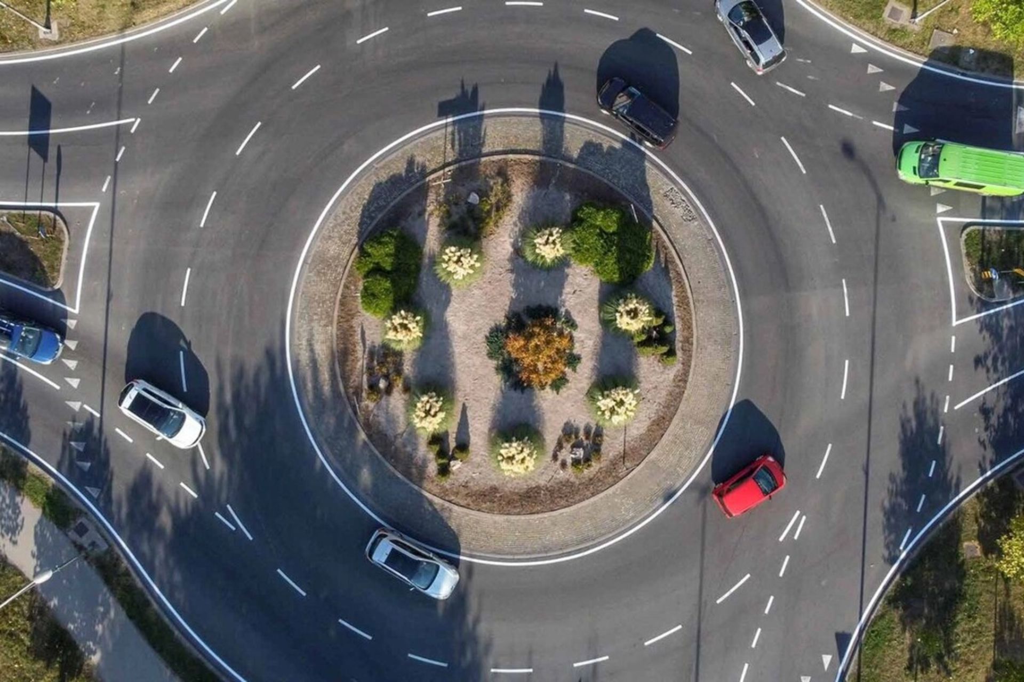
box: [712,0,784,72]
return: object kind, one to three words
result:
car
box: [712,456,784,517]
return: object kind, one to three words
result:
car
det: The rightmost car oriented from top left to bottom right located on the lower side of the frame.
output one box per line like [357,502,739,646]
[368,527,456,596]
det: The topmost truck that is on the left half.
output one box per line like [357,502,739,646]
[0,309,65,359]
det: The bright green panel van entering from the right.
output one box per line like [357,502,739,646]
[899,137,1024,194]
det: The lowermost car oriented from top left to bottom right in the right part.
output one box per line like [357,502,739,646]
[598,82,680,150]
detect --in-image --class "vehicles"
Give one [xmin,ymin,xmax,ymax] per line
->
[899,137,1024,194]
[117,379,207,446]
[712,0,784,72]
[598,82,680,150]
[712,456,784,517]
[368,527,456,596]
[0,309,65,359]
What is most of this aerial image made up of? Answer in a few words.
paved ground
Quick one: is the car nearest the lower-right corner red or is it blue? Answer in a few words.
red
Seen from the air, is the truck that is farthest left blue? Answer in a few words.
Yes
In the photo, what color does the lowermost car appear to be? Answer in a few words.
blue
